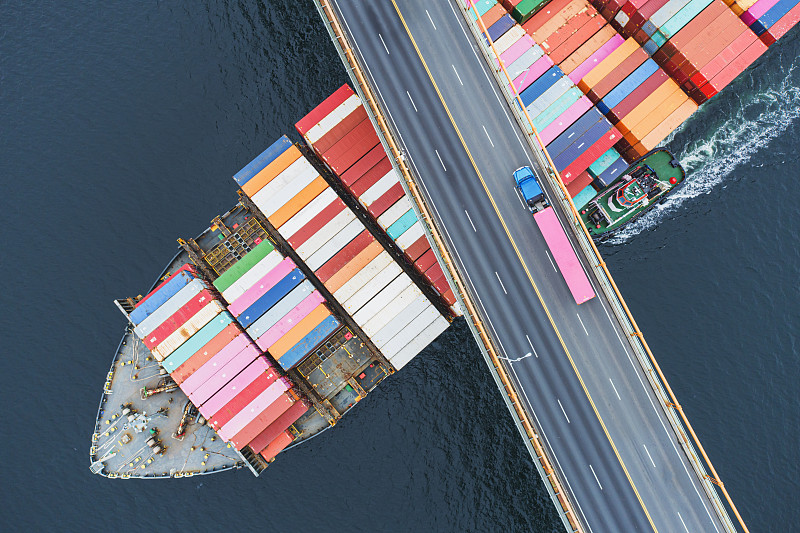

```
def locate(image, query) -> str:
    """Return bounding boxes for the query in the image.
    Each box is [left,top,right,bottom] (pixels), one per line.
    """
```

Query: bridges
[313,0,748,533]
